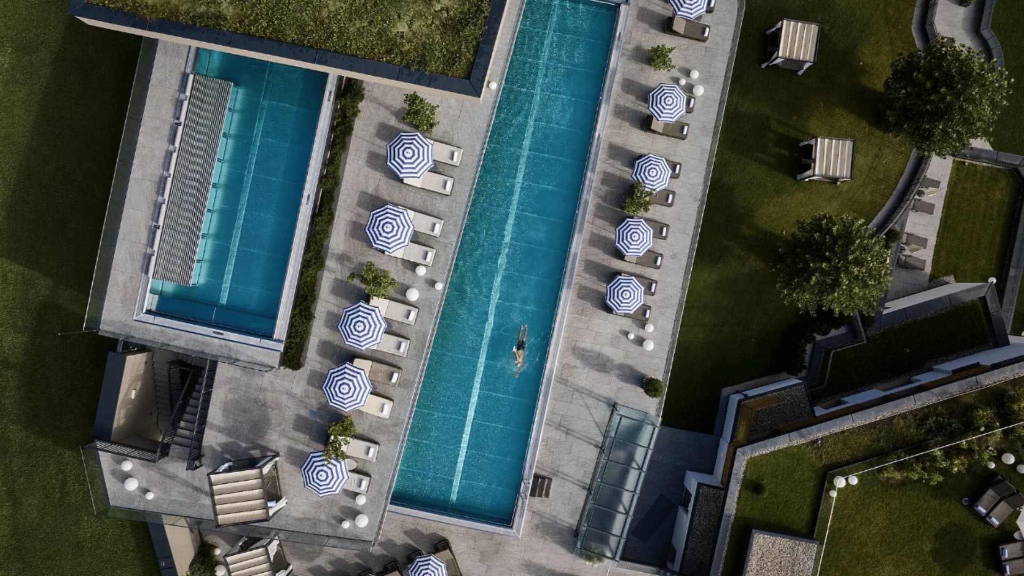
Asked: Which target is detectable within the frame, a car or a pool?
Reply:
pool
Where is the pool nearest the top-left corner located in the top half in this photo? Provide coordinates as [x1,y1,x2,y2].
[132,44,339,351]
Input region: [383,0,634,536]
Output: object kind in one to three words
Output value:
swimming pool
